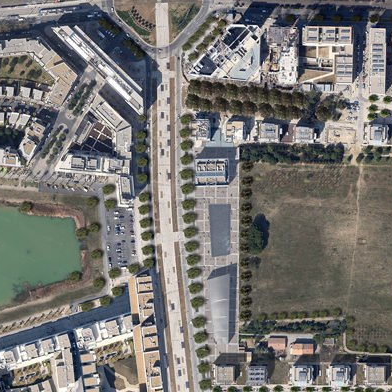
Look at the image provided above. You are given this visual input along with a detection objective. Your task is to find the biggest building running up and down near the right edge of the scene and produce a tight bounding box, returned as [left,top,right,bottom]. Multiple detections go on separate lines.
[369,28,386,94]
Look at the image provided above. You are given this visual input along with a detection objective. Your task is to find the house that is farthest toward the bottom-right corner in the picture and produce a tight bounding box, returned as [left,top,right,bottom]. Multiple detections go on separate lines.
[365,365,386,383]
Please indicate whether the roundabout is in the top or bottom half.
top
